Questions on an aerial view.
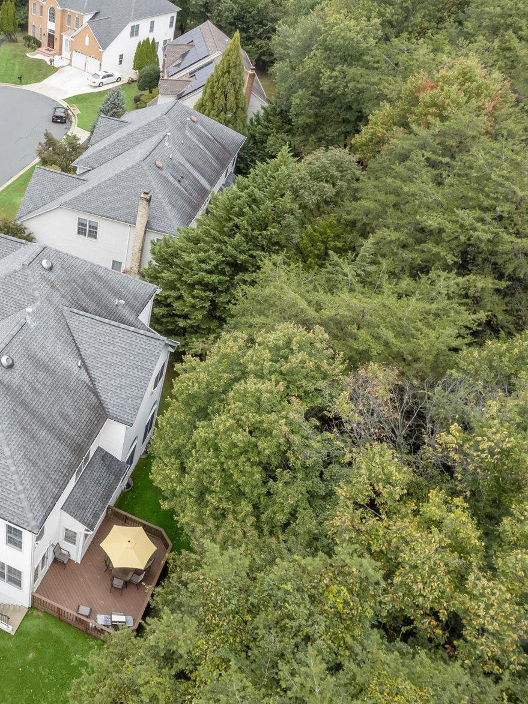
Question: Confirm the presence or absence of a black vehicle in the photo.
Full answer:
No, I find no black vehicle anywhere in the image.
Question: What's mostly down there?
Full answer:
What you mostly see from above here is trees.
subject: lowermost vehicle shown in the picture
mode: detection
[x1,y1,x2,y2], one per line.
[51,103,70,121]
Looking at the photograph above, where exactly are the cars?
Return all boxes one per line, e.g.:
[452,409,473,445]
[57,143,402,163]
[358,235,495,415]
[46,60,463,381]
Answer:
[88,69,124,85]
[51,103,70,121]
